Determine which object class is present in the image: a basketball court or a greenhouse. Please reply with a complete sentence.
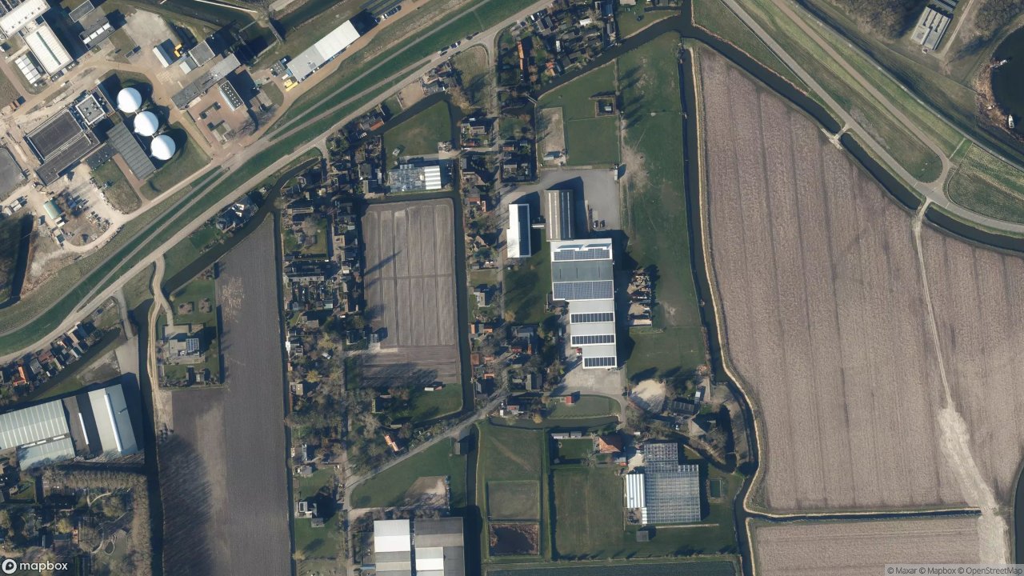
Looking from above, you can make out a greenhouse.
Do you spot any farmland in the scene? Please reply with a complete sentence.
Yes, some farmland is visible.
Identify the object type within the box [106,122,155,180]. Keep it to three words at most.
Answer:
shed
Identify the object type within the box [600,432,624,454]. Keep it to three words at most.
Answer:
house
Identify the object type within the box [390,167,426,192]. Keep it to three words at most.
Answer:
greenhouse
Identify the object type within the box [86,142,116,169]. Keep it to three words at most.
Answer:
building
